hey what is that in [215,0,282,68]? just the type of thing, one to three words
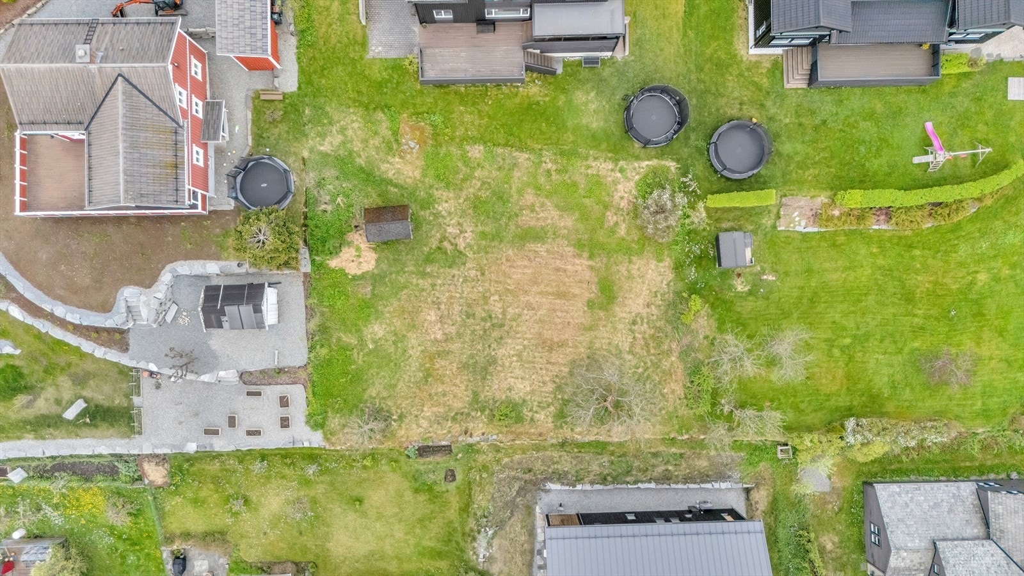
building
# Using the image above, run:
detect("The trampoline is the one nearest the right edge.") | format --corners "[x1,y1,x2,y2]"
[706,113,782,181]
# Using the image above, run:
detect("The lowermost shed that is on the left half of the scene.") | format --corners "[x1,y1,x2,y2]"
[199,281,280,330]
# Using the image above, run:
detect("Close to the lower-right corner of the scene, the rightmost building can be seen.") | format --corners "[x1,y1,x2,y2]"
[862,477,1024,576]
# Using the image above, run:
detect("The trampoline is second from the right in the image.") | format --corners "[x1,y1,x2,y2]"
[621,81,690,149]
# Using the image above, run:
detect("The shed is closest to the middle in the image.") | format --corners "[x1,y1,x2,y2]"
[364,204,416,243]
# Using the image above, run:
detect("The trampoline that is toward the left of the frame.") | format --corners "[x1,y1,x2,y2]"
[224,152,295,216]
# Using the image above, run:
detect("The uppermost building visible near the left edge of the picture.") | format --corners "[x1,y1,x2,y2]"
[0,16,234,218]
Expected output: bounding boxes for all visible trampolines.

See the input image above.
[621,81,690,149]
[706,113,782,181]
[224,152,295,216]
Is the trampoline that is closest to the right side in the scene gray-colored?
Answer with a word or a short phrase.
Yes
